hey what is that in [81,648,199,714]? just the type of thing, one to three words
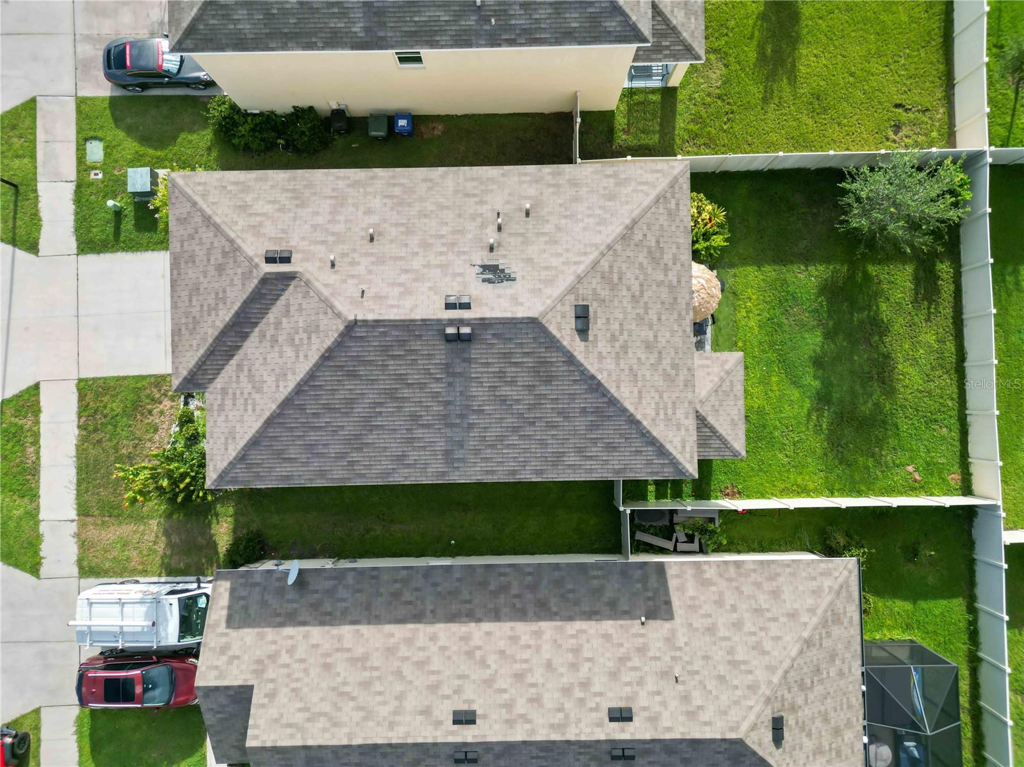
car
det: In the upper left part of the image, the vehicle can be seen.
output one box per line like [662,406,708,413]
[103,33,216,96]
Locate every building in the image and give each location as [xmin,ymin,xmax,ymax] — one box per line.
[168,158,748,491]
[167,0,707,114]
[193,550,870,767]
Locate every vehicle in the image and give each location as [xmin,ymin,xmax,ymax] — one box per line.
[0,729,28,767]
[81,648,199,714]
[79,582,211,656]
[103,33,216,96]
